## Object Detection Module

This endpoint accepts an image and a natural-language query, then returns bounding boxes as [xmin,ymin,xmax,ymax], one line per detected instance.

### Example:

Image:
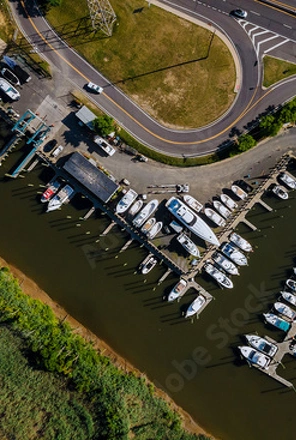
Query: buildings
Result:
[75,105,94,128]
[63,150,120,203]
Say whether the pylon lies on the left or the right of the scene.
left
